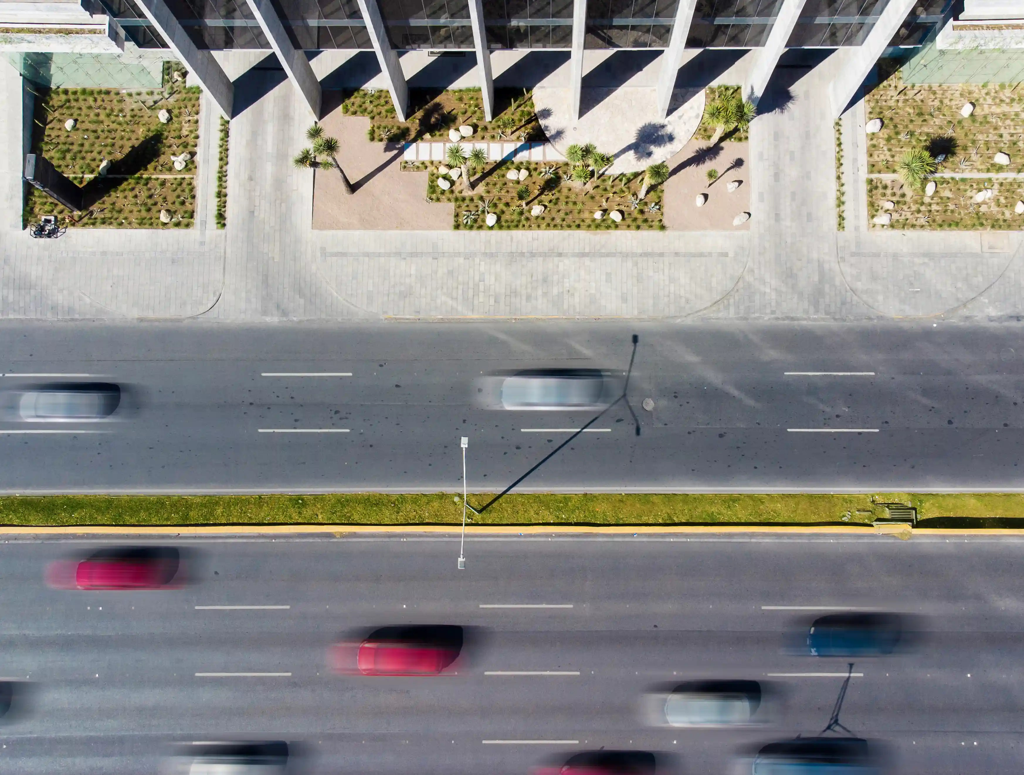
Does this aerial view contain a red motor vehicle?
Yes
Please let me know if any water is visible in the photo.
No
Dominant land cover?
paved ground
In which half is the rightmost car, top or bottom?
bottom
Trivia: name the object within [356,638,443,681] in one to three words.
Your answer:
car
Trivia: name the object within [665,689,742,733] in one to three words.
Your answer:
car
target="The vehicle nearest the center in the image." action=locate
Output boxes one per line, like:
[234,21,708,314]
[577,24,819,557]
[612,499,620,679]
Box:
[501,374,585,414]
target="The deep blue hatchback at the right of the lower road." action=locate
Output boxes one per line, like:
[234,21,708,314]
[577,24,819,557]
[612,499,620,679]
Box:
[807,621,881,664]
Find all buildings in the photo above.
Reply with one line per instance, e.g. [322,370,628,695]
[97,0,953,123]
[903,0,1024,85]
